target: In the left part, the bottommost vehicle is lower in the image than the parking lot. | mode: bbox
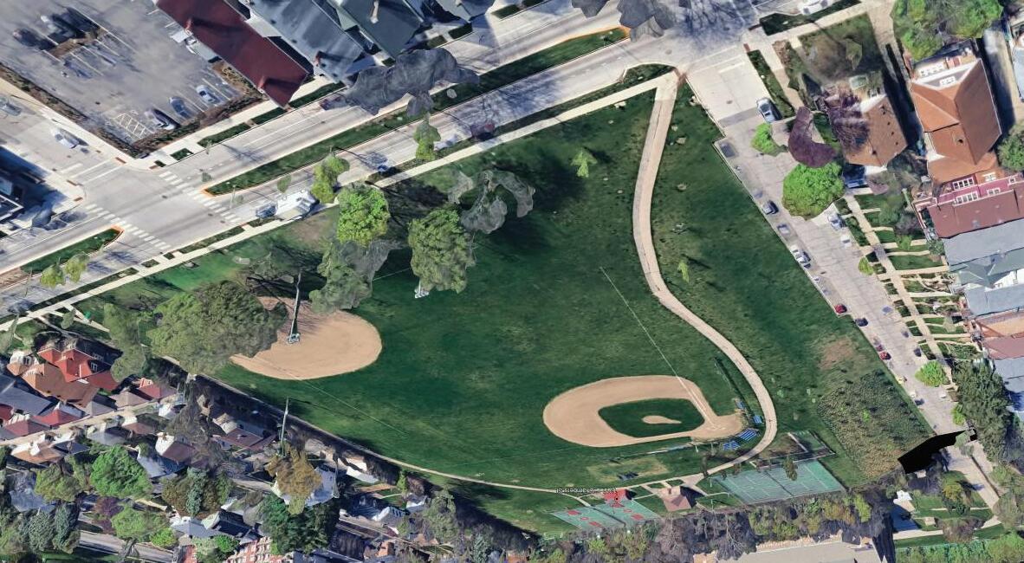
[10,301,30,314]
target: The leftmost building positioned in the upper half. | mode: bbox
[0,159,44,228]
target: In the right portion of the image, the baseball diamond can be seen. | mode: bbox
[543,269,745,447]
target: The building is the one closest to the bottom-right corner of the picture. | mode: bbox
[891,485,918,510]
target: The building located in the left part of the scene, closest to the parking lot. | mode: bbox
[141,0,316,108]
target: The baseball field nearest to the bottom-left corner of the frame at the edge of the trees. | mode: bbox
[210,267,415,437]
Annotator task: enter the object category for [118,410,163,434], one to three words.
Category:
building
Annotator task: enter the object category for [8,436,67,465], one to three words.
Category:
building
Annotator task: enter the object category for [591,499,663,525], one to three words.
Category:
basketball court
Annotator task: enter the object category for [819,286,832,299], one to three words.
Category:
vehicle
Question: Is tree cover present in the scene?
Yes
